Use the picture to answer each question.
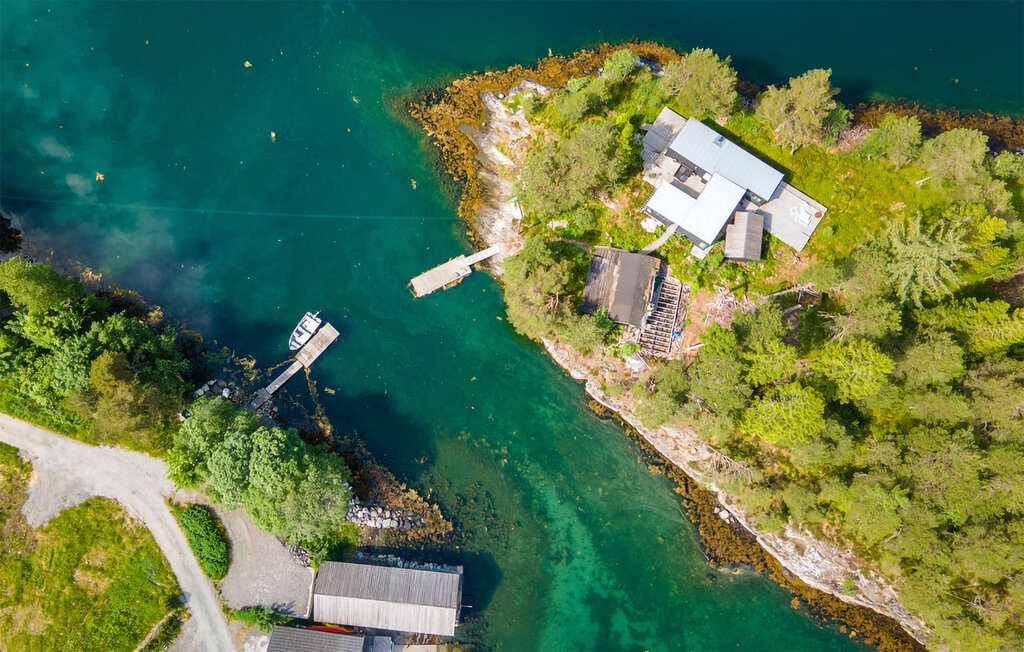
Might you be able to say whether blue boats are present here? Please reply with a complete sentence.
No, I can't see a single blue boat in this photo.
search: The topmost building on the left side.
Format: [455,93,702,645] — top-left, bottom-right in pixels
[314,555,473,635]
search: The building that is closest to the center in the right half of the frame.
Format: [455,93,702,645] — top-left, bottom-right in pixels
[583,247,660,327]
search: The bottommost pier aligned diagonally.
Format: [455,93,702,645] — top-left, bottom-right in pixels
[266,322,340,394]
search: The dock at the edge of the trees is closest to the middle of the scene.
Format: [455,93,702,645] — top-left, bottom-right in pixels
[411,244,501,297]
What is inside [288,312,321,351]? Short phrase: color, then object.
white boat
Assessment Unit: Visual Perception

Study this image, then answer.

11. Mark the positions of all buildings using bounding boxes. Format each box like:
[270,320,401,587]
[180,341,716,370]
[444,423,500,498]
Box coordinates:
[632,116,786,247]
[583,247,660,327]
[267,622,364,652]
[314,555,473,635]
